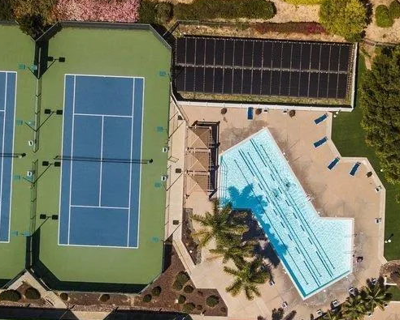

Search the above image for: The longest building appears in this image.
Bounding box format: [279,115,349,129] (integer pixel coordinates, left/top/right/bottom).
[183,125,213,197]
